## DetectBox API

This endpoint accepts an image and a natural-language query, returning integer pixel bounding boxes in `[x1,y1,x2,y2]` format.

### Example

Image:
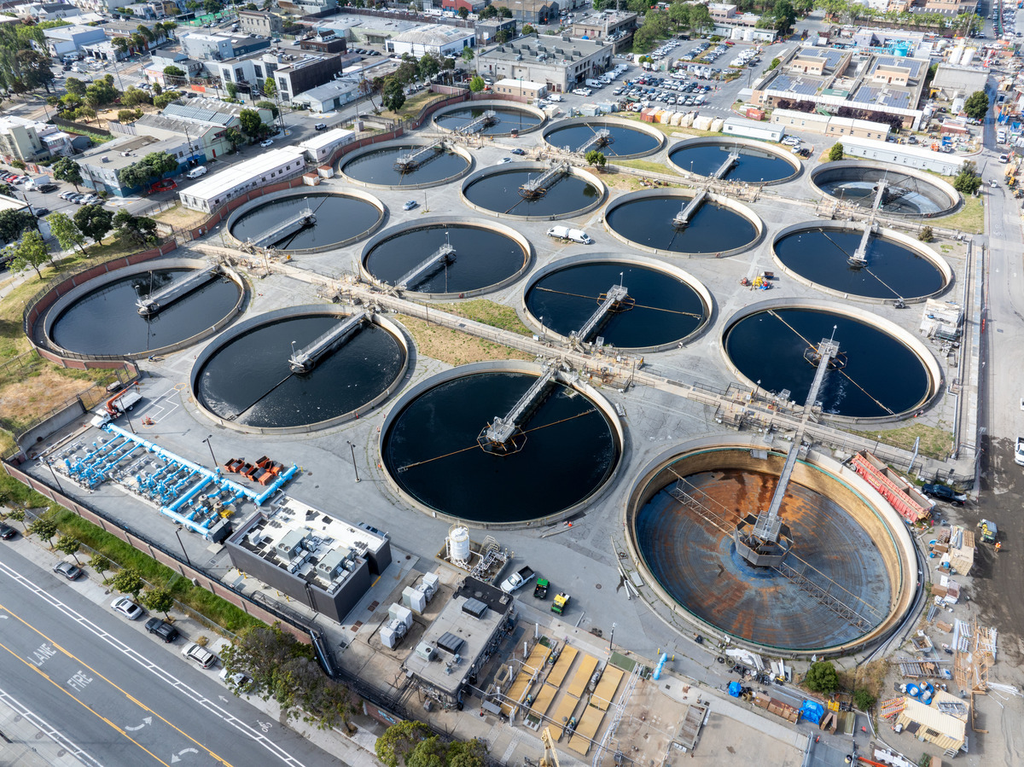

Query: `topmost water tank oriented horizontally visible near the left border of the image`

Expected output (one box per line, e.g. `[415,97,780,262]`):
[43,256,250,364]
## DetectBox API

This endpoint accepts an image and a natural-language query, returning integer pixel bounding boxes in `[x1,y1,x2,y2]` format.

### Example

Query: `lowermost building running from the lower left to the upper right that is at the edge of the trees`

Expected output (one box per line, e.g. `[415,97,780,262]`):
[389,577,515,722]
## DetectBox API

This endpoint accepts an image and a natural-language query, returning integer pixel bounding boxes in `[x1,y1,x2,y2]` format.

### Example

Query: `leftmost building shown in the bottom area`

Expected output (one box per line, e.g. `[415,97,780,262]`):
[224,491,390,624]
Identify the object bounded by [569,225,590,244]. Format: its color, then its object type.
white vehicle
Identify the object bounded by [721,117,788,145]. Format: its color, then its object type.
white trailer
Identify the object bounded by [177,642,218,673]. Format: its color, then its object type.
white car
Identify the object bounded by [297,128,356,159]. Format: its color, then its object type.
white trailer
